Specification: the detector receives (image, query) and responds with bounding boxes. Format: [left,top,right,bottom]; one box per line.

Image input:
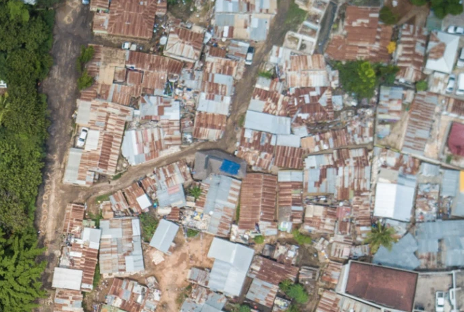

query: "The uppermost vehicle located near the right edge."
[446,23,464,36]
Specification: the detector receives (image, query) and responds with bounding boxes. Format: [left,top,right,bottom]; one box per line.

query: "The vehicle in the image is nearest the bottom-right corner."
[434,291,446,312]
